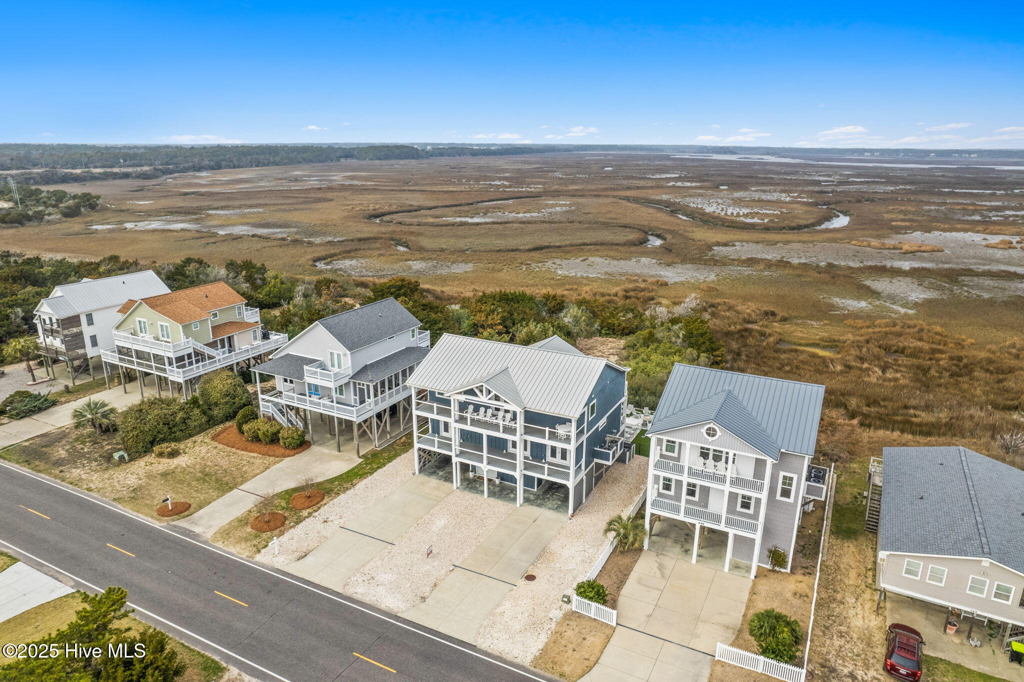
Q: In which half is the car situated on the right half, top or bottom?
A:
bottom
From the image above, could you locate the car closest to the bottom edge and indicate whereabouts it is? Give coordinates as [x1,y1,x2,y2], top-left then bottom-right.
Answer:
[886,625,928,682]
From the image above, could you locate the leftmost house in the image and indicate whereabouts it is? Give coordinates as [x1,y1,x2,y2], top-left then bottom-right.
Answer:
[25,270,170,386]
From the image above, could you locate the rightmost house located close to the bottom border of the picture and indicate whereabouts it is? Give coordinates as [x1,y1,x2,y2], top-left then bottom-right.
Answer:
[855,445,1024,653]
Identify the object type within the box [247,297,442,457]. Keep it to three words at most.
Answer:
house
